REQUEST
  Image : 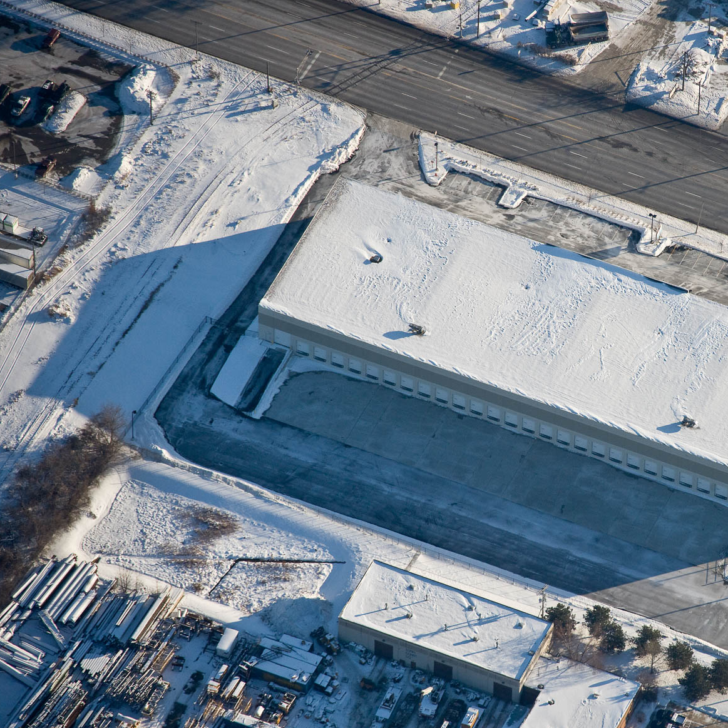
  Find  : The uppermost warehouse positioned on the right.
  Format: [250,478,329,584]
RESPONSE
[257,177,728,503]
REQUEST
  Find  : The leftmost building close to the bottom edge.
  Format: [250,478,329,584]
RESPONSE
[338,540,565,700]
